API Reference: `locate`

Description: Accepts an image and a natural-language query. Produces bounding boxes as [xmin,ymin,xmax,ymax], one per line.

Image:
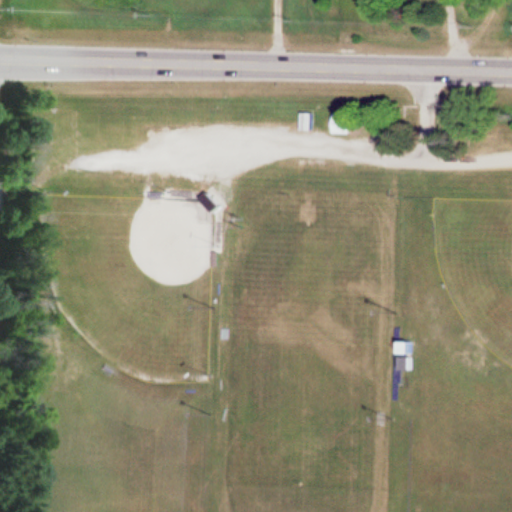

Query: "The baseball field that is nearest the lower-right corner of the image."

[433,200,512,366]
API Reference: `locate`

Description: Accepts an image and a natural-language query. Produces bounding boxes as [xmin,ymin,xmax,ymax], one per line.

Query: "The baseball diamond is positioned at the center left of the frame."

[47,190,216,384]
